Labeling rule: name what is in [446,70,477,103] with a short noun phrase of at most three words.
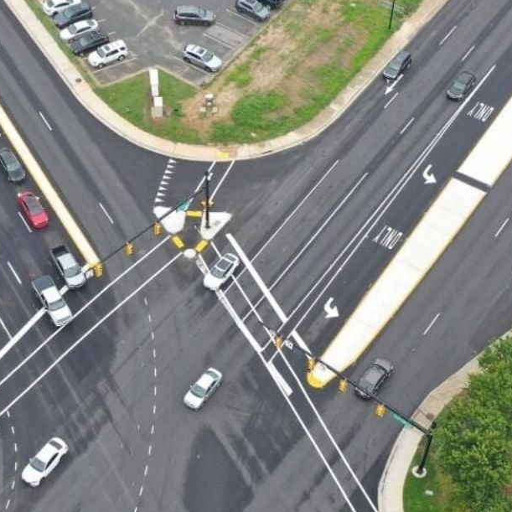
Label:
car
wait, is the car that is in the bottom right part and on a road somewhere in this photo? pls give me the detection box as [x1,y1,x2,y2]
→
[353,356,393,403]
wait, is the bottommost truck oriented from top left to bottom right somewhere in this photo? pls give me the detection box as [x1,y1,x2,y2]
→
[30,272,74,328]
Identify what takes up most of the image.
paved ground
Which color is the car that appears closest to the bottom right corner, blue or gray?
gray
